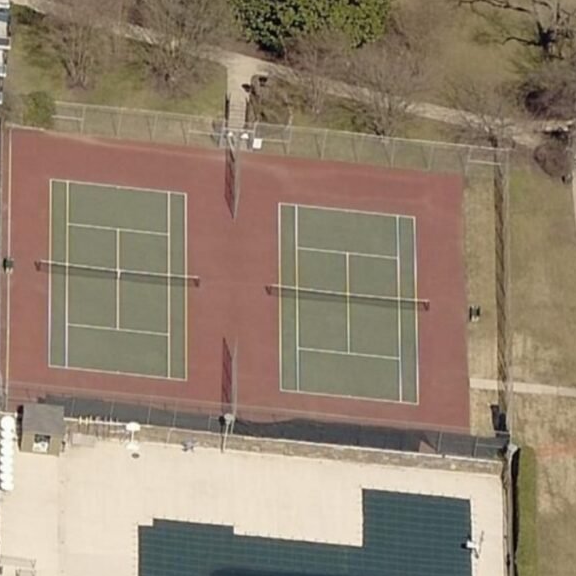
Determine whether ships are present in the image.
No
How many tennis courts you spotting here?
two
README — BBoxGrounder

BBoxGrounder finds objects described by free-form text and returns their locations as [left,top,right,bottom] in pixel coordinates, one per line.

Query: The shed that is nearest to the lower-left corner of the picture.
[20,405,63,455]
